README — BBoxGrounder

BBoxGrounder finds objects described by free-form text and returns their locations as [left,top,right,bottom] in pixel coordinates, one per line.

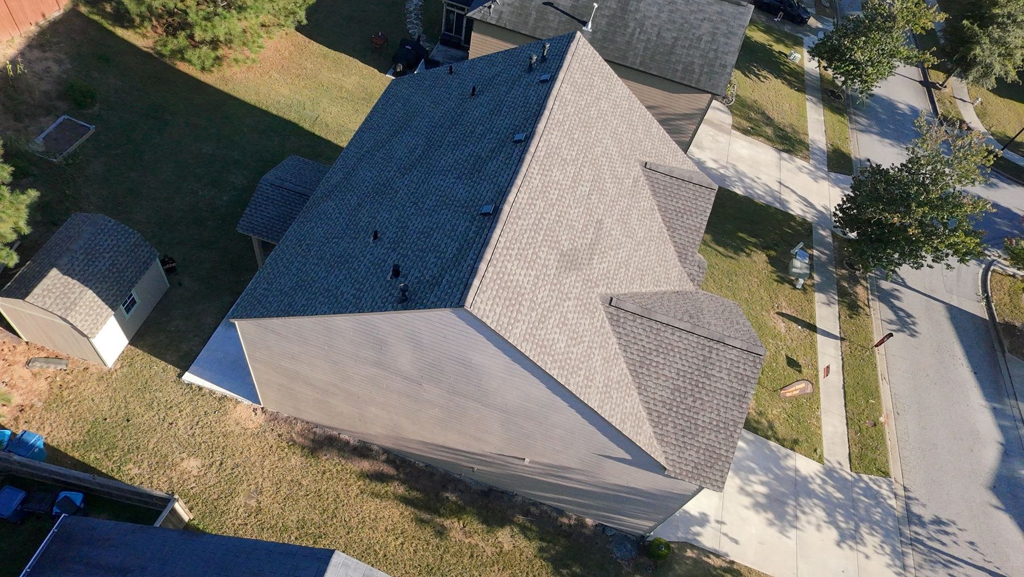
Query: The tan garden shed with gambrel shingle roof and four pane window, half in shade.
[0,212,175,370]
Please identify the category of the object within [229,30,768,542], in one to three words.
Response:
house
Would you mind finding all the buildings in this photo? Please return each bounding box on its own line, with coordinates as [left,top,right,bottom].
[0,212,175,370]
[14,512,378,577]
[229,30,768,542]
